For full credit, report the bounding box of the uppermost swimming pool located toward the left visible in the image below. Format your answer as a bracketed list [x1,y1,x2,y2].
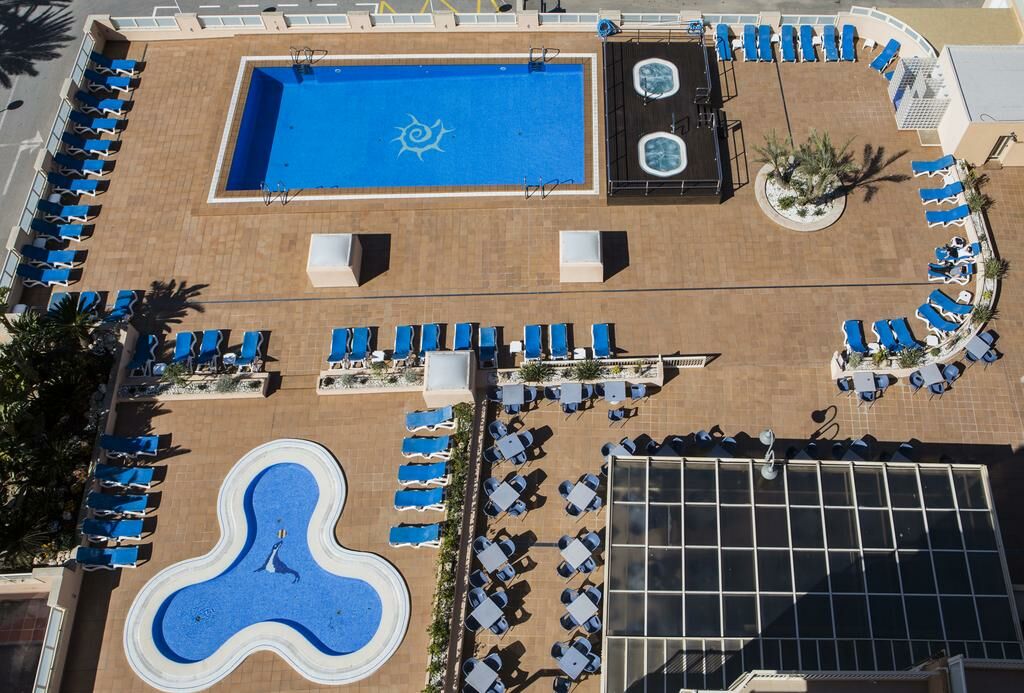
[208,52,600,203]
